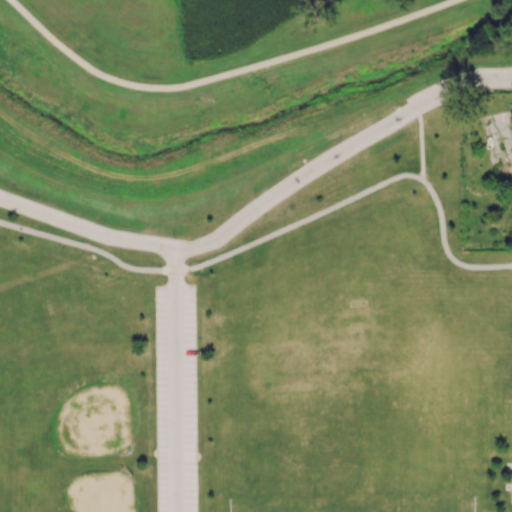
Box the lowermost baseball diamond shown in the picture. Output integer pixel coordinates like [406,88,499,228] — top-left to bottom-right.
[68,472,134,512]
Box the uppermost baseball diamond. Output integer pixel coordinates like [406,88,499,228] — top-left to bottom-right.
[60,386,132,456]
